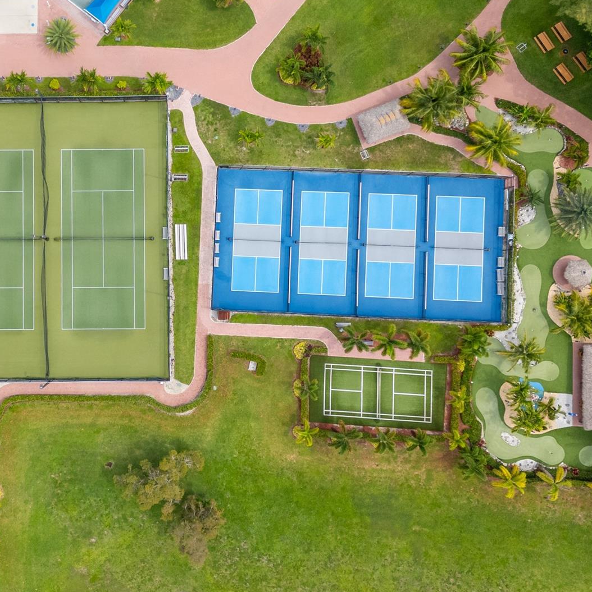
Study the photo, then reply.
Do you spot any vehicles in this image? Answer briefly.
No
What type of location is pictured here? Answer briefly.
sports ground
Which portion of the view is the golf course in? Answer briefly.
right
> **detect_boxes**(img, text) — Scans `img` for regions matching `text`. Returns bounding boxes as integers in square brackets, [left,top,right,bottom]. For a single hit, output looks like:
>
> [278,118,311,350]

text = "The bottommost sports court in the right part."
[324,364,434,423]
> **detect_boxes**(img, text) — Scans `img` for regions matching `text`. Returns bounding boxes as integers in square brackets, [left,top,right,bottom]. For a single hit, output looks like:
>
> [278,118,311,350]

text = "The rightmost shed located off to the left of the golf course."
[356,99,410,146]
